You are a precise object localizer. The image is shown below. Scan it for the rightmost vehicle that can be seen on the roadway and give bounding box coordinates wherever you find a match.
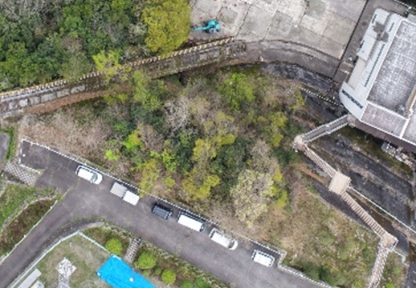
[252,250,278,270]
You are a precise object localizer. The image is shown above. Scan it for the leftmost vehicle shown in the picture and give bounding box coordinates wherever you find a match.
[74,165,104,187]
